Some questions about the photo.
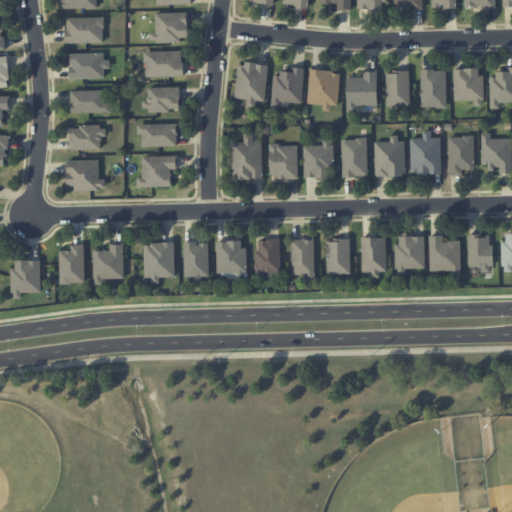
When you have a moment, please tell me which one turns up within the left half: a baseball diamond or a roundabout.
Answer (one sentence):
Looking within the left half, you will find a baseball diamond.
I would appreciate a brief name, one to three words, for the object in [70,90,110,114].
house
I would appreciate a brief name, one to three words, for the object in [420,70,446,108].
house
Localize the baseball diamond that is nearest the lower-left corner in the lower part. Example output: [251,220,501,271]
[0,400,62,512]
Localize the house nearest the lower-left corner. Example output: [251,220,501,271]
[10,260,42,299]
